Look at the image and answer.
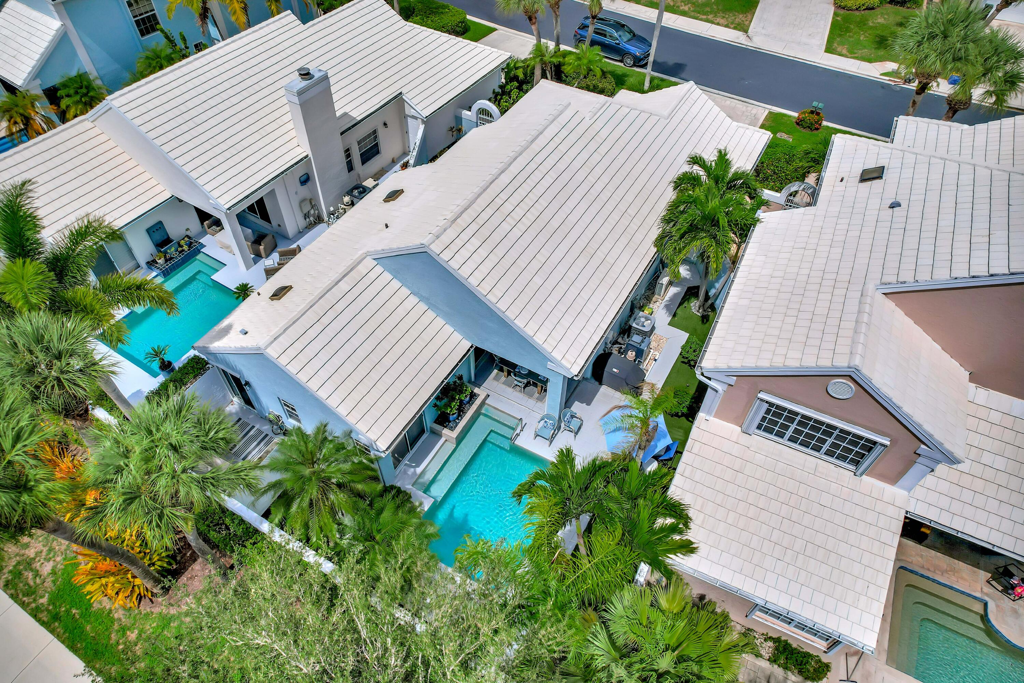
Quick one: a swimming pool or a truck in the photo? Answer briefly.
swimming pool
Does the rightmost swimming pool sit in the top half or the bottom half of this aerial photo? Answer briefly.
bottom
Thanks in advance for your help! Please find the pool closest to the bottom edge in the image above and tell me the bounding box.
[877,560,1024,683]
